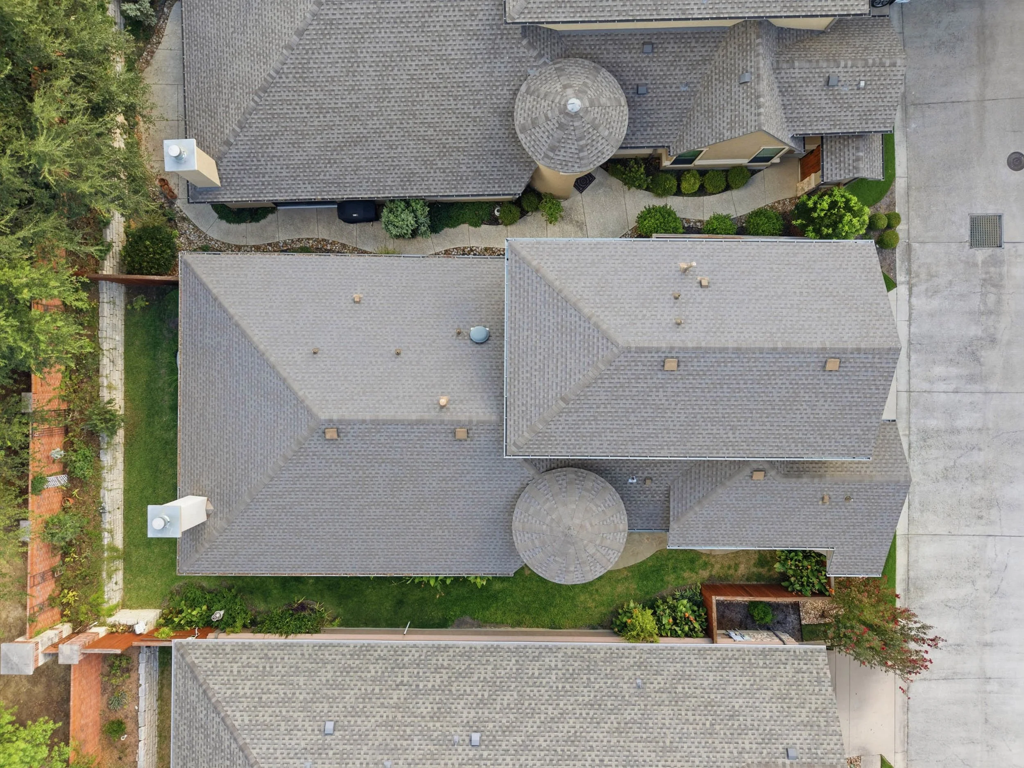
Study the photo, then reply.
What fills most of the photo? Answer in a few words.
buildings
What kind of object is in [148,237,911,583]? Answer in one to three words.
house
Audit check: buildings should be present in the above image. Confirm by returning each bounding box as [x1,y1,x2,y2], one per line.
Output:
[163,0,907,211]
[171,623,848,768]
[148,237,911,583]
